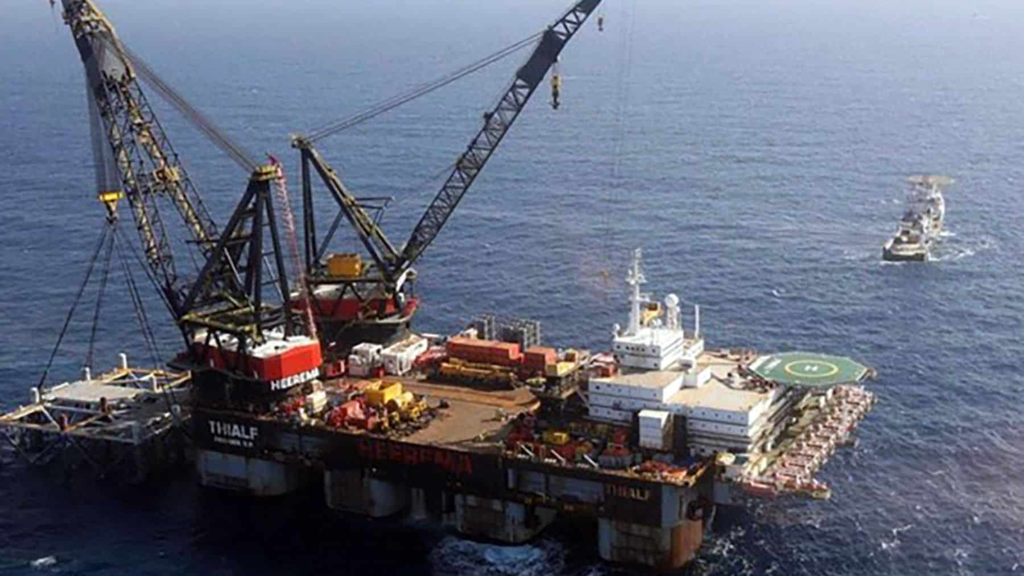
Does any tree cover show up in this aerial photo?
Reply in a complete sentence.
No, there is no tree cover in the image.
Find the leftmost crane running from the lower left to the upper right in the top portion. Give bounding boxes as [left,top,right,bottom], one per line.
[282,0,634,328]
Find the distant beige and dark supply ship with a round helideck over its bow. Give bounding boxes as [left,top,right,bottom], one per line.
[884,178,954,261]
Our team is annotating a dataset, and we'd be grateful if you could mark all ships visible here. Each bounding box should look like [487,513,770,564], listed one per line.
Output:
[192,243,885,567]
[884,178,954,261]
